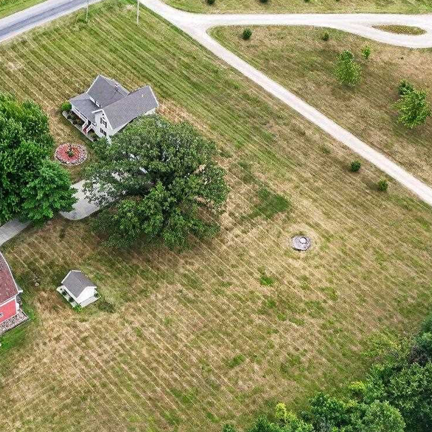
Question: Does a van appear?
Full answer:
No, I find no van anywhere in the image.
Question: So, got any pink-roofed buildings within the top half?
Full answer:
No, the scene shows no pink-roofed building within the top half.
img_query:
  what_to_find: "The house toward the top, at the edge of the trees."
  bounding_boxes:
[72,74,160,144]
